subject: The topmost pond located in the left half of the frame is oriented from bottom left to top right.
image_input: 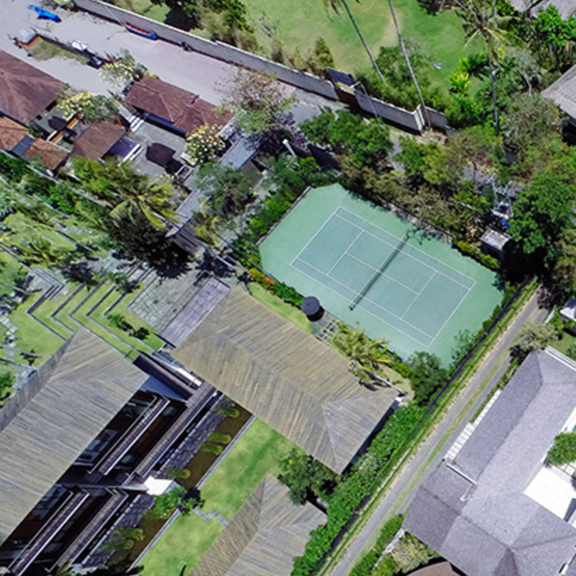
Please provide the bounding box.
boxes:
[184,413,257,491]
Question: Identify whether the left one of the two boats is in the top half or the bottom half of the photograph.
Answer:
top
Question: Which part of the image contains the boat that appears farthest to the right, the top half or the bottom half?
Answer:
top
